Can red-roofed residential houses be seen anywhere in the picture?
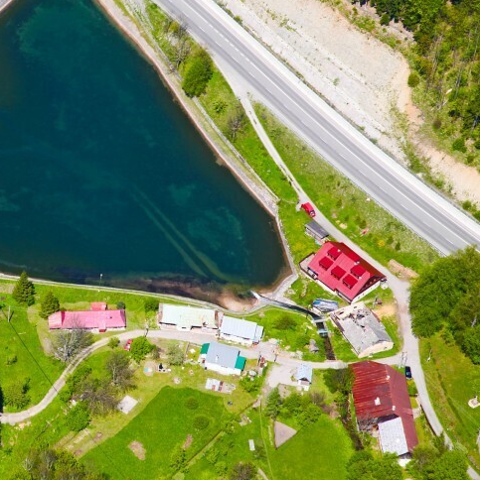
Yes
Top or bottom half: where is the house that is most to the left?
bottom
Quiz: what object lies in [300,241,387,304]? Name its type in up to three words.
house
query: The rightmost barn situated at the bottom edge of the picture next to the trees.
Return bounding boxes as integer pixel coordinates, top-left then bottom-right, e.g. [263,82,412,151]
[349,365,419,480]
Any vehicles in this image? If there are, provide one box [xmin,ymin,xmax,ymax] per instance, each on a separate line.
[303,199,318,216]
[124,337,132,349]
[403,365,414,378]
